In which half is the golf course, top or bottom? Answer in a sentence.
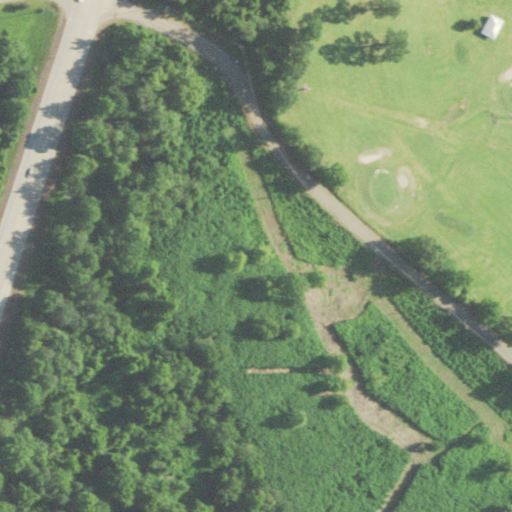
It is in the top half that the golf course appears.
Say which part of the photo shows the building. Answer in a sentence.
The building is located in the top right region of the scene.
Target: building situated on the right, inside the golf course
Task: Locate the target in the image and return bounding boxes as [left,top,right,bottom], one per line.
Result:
[482,14,505,39]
